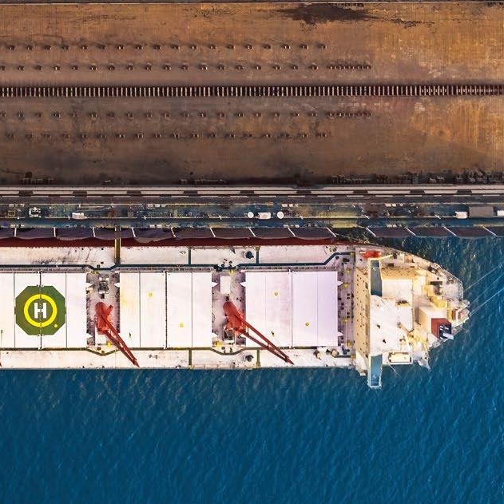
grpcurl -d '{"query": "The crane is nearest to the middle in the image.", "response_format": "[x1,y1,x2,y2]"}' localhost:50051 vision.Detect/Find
[220,299,295,365]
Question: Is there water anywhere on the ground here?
Yes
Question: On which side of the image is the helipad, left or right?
left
